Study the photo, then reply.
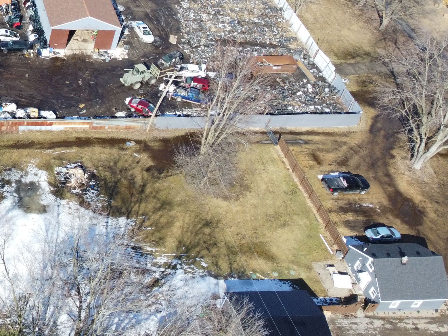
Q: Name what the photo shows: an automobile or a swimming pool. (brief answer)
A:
automobile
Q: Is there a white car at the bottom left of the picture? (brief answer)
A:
No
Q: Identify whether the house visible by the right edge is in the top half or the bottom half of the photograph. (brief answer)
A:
bottom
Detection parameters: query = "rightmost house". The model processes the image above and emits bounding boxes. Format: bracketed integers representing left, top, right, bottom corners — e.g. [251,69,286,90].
[342,243,448,312]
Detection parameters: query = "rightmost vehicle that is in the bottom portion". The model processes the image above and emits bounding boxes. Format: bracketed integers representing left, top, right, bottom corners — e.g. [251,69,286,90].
[355,224,409,243]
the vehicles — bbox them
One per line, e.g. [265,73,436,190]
[117,57,173,89]
[0,39,34,54]
[0,28,21,42]
[355,224,409,243]
[157,48,188,69]
[134,20,155,43]
[168,87,214,110]
[177,75,219,92]
[172,63,210,78]
[120,94,161,116]
[317,172,374,197]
